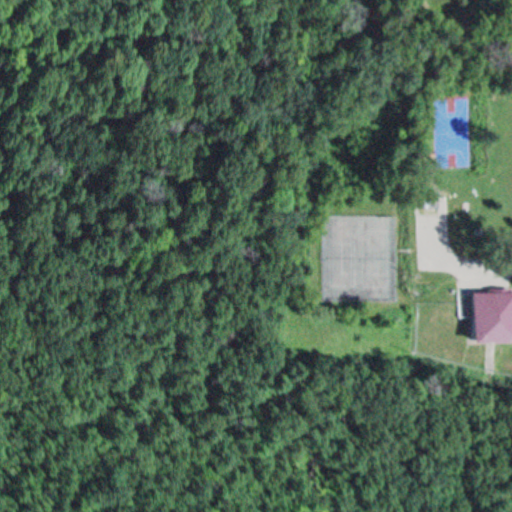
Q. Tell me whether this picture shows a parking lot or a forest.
forest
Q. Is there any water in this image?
No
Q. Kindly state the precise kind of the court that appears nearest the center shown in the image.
tennis court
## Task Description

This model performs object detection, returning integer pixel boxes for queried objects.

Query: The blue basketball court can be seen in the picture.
[434,98,470,168]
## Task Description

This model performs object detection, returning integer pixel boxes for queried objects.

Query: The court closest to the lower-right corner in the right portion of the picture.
[322,216,397,303]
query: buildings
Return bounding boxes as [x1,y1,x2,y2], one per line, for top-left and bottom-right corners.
[474,288,512,342]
